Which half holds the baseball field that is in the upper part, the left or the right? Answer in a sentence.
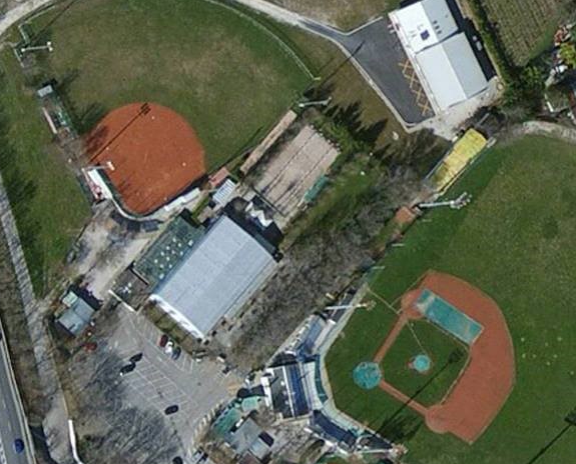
It is on the left.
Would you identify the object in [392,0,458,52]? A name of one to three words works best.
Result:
building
